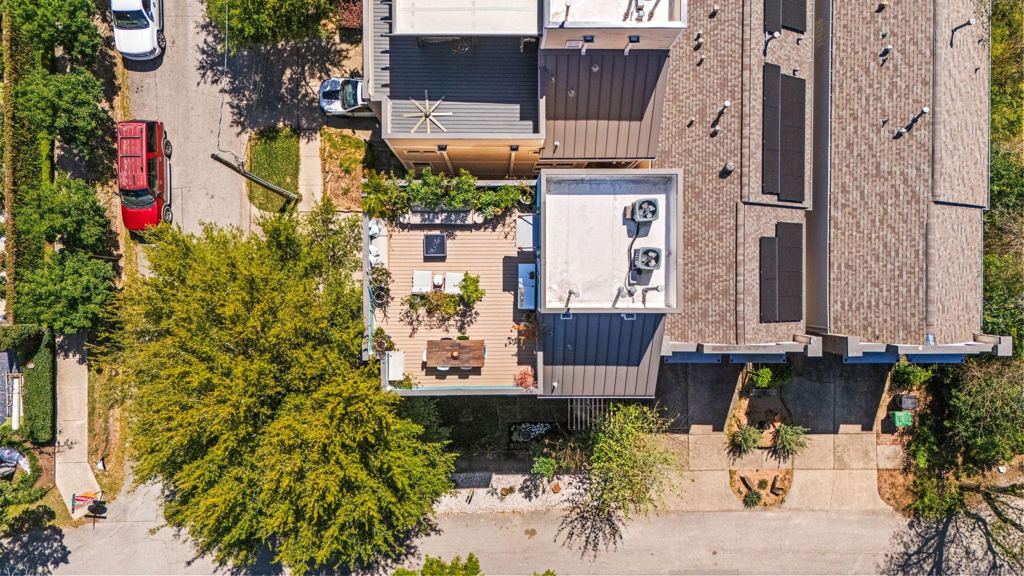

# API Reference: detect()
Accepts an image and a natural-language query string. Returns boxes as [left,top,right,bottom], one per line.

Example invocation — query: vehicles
[319,70,379,119]
[117,126,175,231]
[111,0,170,59]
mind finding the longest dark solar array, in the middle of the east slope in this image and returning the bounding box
[764,61,805,203]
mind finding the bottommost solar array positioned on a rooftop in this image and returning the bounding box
[760,222,802,322]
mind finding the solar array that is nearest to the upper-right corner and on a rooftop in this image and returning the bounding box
[765,0,806,37]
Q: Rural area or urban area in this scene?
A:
urban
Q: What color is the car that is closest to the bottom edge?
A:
red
